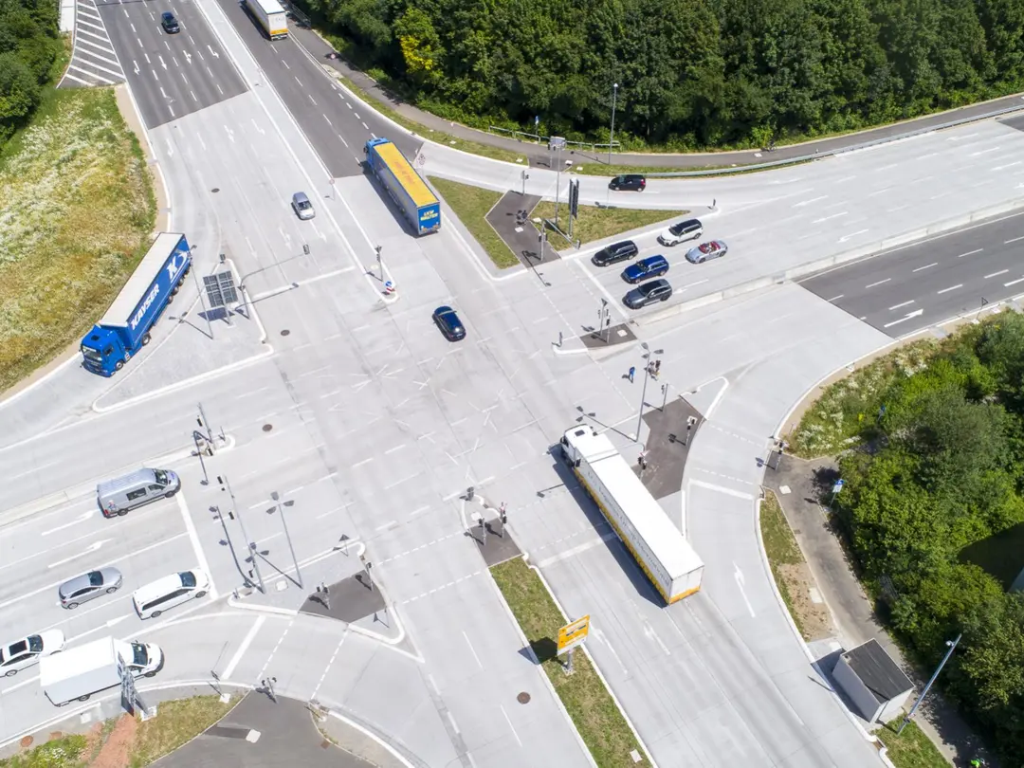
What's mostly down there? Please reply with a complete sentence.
For the most part, this view shows paved ground.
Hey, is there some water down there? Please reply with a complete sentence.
No, there's no water in this view.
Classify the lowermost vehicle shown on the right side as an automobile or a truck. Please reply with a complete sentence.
From above, the lowermost vehicle shown on the right side can be identified as a truck.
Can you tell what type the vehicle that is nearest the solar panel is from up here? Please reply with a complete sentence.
I'd say the vehicle that is nearest the solar panel is a truck.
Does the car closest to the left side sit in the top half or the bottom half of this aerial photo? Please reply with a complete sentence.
The car closest to the left side sits in the bottom half of the picture.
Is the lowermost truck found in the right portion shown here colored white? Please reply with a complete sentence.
Yes, white is the color of the lowermost truck found in the right portion.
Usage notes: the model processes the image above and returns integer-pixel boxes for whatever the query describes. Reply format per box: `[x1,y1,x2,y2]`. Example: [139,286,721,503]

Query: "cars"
[659,217,705,246]
[132,566,212,619]
[435,307,467,344]
[621,276,674,308]
[687,239,730,263]
[0,627,70,677]
[593,240,639,266]
[610,172,647,192]
[55,566,123,608]
[622,255,671,283]
[161,12,181,34]
[289,190,315,220]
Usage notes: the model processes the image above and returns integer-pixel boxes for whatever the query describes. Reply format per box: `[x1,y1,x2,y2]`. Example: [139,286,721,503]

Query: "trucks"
[76,232,191,381]
[244,0,289,39]
[362,136,441,232]
[38,636,164,707]
[555,423,703,605]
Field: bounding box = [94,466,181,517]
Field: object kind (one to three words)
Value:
van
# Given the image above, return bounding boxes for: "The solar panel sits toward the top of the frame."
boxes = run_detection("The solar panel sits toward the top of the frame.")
[203,271,238,327]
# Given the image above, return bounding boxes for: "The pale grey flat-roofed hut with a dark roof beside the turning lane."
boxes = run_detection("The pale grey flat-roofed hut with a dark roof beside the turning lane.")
[833,638,914,722]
